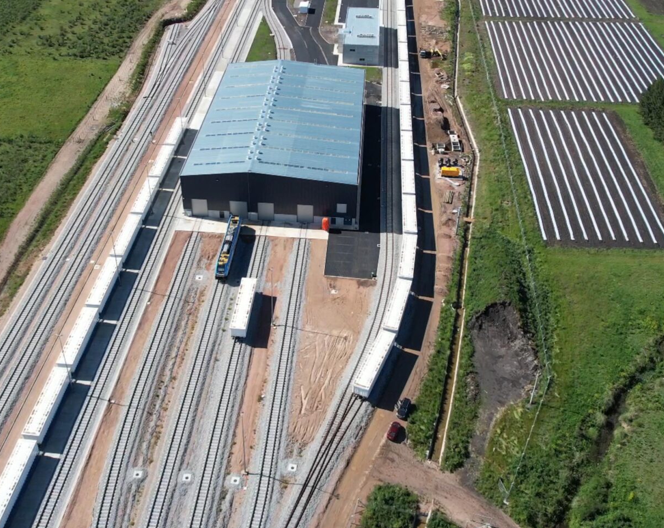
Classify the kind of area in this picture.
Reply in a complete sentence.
The area seen from above is a rail yard.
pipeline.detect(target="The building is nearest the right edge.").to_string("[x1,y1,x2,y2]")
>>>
[334,7,379,65]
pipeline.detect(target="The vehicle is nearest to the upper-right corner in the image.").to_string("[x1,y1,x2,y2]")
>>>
[419,41,449,58]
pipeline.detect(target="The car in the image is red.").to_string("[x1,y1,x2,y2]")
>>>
[388,421,401,441]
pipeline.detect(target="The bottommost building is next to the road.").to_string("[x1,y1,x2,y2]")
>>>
[178,59,366,224]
